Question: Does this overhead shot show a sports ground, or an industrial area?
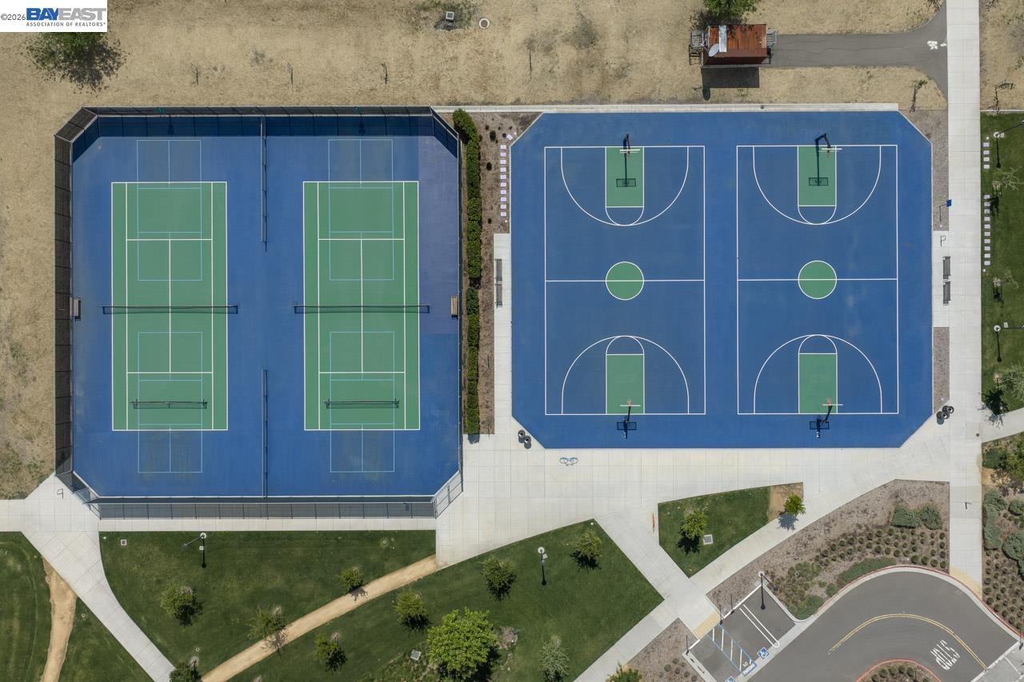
sports ground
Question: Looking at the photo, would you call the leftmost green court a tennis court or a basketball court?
tennis court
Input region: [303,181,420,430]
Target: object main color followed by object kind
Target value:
green tennis court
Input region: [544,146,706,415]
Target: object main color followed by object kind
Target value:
blue basketball court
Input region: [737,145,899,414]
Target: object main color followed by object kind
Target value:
blue basketball court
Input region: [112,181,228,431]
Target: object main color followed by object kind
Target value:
green tennis court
